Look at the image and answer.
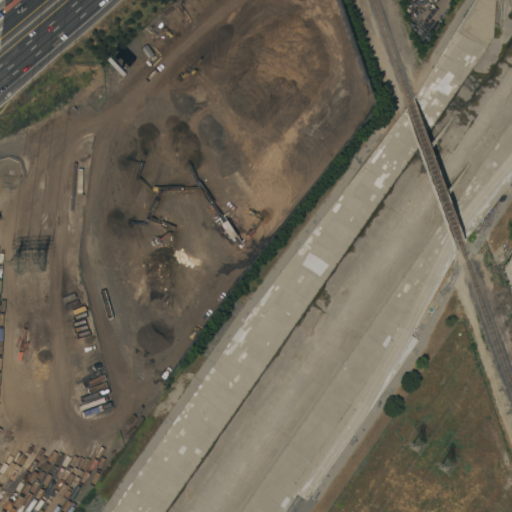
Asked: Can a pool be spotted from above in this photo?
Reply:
No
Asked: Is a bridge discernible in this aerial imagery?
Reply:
Yes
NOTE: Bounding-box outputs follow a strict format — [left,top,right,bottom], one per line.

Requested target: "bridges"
[404,103,471,254]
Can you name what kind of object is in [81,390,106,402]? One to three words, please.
vehicle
